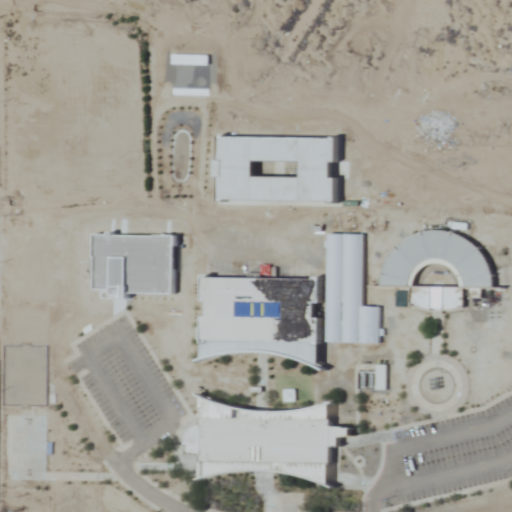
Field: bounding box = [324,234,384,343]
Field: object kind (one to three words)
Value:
building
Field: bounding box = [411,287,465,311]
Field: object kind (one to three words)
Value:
building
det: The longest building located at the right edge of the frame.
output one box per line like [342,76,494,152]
[380,230,495,286]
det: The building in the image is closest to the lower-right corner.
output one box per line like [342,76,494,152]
[356,364,389,392]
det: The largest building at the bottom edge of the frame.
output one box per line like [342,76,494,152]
[193,394,350,488]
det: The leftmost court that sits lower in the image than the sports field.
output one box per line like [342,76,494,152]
[8,415,46,480]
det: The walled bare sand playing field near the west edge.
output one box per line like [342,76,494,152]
[5,344,48,405]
